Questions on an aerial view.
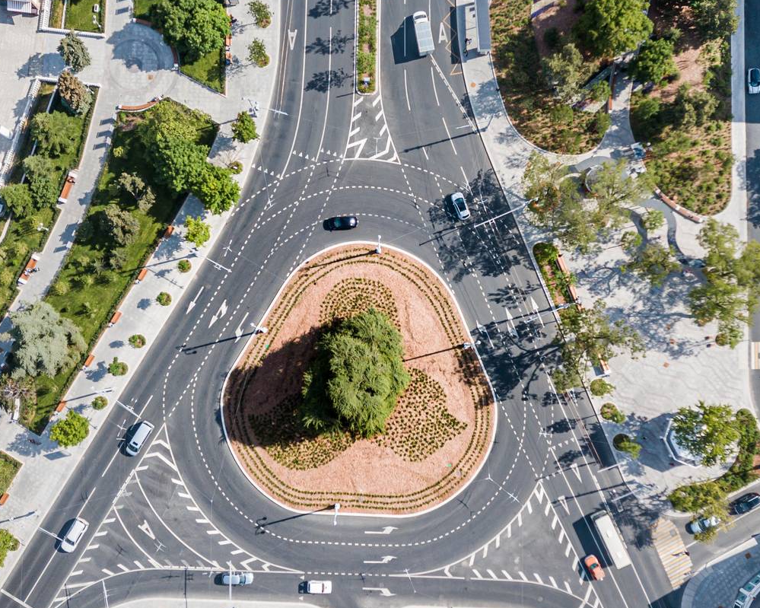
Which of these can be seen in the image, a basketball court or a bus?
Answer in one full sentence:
Of the two, only a bus appears.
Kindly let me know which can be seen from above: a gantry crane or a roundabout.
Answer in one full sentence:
It is a roundabout that can be seen here.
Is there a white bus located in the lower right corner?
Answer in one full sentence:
Yes, I can see a white bus in the lower right corner.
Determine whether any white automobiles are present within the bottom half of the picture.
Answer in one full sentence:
Yes, the scene does show a white automobile within the bottom half of the picture.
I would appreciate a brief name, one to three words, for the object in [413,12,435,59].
truck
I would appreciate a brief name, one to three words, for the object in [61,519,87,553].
car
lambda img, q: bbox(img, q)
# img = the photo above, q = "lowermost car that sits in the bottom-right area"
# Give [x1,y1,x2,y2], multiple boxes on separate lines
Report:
[582,550,606,585]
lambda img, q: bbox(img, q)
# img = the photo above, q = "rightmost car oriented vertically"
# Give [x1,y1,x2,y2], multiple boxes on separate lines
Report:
[748,67,760,95]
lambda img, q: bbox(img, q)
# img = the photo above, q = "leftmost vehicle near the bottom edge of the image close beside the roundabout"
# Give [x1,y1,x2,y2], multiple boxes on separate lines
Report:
[221,571,254,588]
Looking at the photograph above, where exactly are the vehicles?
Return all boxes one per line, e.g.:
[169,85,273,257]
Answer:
[413,12,435,59]
[221,571,254,588]
[302,580,332,596]
[582,550,606,585]
[450,191,468,223]
[587,508,631,569]
[124,419,154,456]
[61,519,87,553]
[325,216,358,231]
[732,493,760,515]
[748,67,760,95]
